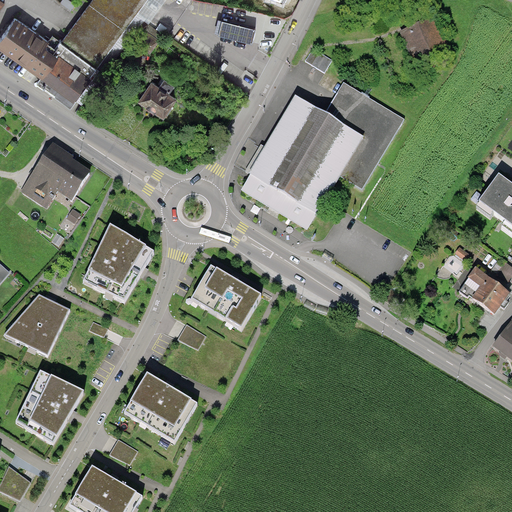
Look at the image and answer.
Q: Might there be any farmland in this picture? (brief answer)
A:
Yes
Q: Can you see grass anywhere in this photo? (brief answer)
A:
Yes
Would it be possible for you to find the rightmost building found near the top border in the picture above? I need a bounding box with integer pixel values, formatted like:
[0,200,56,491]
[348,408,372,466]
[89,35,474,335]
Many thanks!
[400,21,442,54]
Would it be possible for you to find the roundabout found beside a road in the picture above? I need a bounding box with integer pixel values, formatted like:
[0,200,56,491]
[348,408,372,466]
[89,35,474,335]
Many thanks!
[160,176,228,244]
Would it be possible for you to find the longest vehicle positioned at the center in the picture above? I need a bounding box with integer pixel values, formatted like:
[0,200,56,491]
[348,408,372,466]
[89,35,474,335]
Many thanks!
[200,228,232,244]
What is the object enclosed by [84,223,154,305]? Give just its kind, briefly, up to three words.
building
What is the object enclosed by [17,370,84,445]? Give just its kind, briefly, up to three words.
building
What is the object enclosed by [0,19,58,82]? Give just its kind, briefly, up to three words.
house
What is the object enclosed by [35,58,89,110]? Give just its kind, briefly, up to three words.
house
